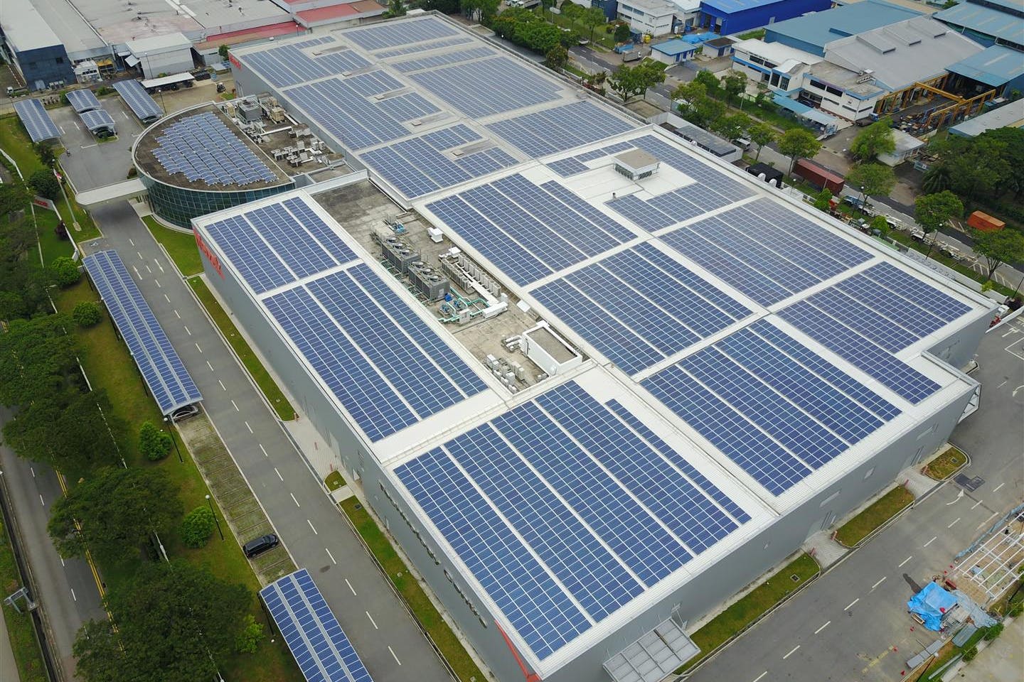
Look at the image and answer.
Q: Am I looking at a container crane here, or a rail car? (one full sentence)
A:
The one in the frame is a container crane.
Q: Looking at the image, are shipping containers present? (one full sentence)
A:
Yes, the frame does contain a shipping container.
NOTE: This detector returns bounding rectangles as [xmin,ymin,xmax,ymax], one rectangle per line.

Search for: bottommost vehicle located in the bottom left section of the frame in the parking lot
[243,533,280,557]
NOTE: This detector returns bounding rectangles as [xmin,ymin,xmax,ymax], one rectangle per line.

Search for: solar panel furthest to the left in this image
[14,100,59,142]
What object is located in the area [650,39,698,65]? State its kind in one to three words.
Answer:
building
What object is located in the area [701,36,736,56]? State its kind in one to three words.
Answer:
shed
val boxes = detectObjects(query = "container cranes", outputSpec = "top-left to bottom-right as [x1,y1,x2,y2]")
[871,73,996,134]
